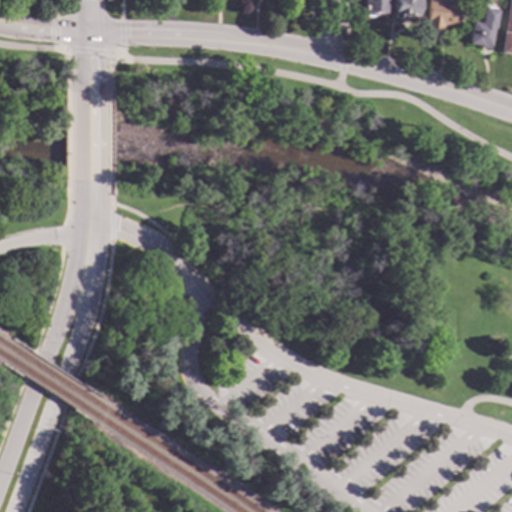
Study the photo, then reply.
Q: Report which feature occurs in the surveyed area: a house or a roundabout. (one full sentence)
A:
Visible in the photo is a house.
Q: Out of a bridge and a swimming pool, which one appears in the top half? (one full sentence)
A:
The feature located in the top half is a bridge.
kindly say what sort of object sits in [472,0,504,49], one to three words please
house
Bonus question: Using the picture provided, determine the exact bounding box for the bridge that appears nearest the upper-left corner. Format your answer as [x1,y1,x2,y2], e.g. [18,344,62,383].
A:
[67,102,118,194]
